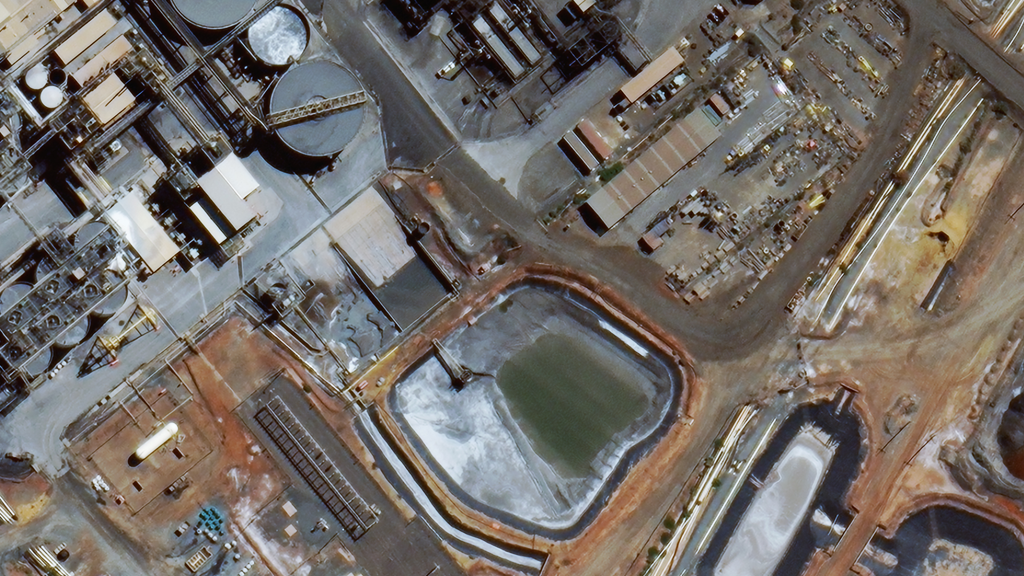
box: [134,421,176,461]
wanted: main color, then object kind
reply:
white storage tank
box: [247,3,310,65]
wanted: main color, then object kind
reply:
white storage tank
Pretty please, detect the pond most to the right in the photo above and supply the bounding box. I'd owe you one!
[997,380,1024,488]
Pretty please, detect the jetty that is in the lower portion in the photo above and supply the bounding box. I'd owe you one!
[433,343,474,385]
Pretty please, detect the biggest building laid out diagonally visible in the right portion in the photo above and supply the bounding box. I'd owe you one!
[586,106,723,229]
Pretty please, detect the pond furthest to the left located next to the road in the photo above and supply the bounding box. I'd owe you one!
[387,275,686,542]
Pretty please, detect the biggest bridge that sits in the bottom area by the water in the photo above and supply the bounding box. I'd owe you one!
[822,506,887,572]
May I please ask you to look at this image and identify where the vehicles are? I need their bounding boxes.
[357,380,369,390]
[377,376,383,386]
[680,35,694,48]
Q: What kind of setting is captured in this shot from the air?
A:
industrial area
